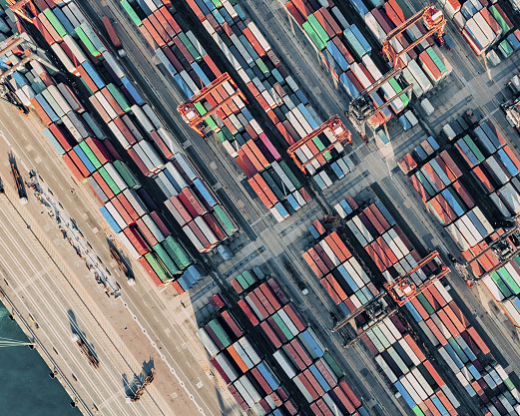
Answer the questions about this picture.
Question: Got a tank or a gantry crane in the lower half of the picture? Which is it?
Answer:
gantry crane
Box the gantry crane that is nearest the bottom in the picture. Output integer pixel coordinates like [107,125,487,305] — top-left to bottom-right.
[324,283,404,353]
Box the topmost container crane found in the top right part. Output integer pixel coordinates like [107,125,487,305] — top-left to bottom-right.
[378,1,451,80]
